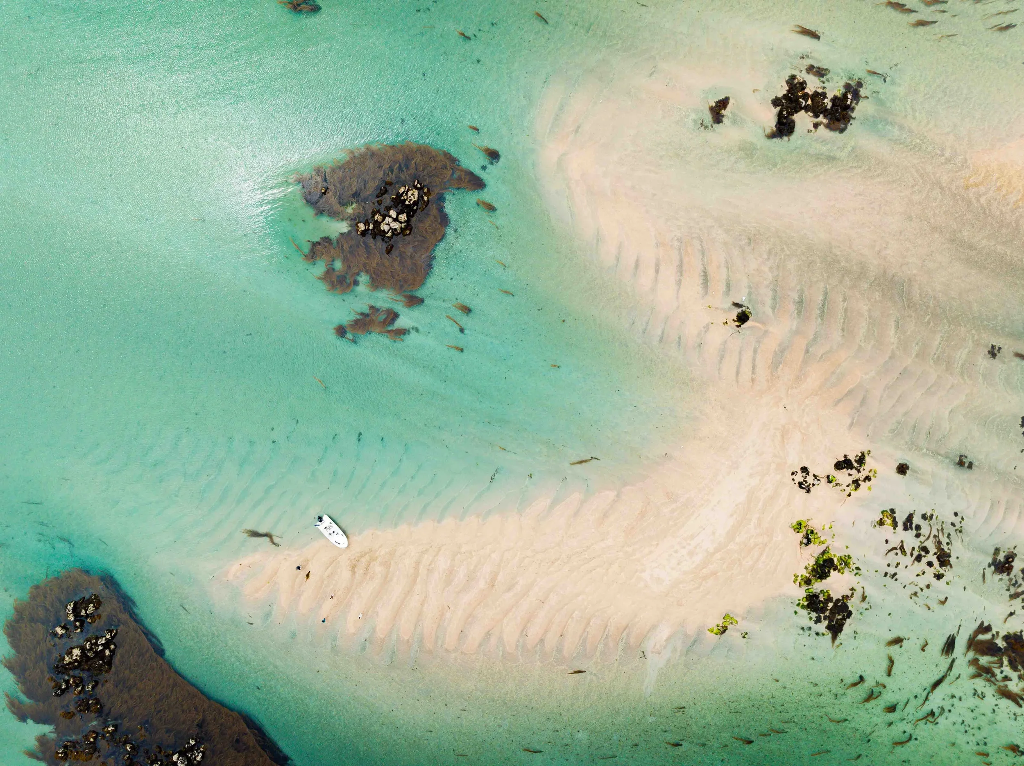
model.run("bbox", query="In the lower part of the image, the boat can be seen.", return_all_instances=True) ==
[316,513,348,548]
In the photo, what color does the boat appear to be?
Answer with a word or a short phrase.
white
